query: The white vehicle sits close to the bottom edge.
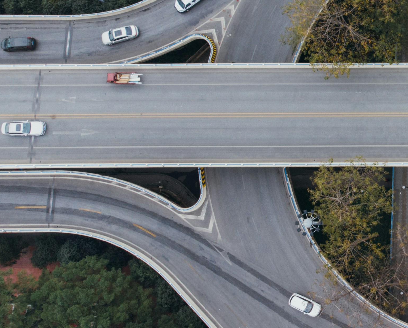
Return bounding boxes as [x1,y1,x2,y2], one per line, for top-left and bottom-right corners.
[287,291,323,318]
